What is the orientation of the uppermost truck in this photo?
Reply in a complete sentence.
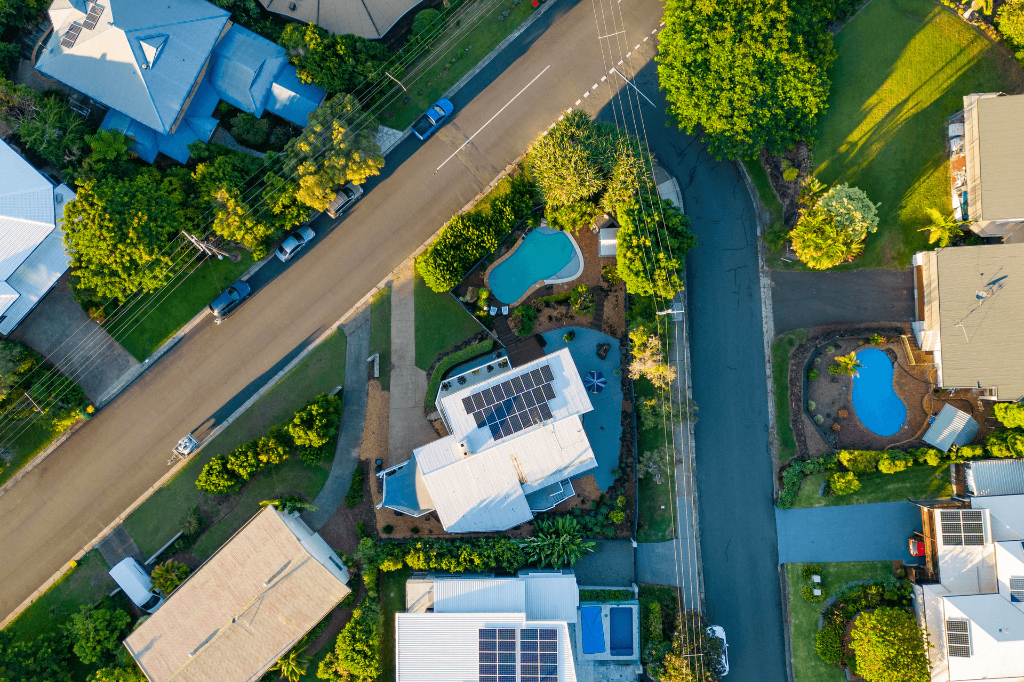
In this picture, the uppermost truck is oriented diagonally.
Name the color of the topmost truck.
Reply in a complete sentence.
The color of the topmost truck is blue.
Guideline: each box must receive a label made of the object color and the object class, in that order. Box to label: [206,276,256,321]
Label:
blue car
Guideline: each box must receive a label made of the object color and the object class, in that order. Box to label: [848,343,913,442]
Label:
blue swimming pool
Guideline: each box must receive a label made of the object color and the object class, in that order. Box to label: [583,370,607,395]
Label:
blue umbrella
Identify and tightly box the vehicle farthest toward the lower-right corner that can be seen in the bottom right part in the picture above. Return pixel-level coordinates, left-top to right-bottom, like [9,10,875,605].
[902,535,924,557]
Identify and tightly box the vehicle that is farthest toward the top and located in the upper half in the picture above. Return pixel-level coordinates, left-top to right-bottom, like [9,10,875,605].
[405,94,459,146]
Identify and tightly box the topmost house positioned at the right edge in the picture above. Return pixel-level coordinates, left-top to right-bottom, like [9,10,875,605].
[943,93,1024,244]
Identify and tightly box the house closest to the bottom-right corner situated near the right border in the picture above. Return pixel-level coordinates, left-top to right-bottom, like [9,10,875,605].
[910,457,1024,682]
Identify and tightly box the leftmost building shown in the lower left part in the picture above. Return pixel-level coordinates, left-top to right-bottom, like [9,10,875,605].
[122,503,353,682]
